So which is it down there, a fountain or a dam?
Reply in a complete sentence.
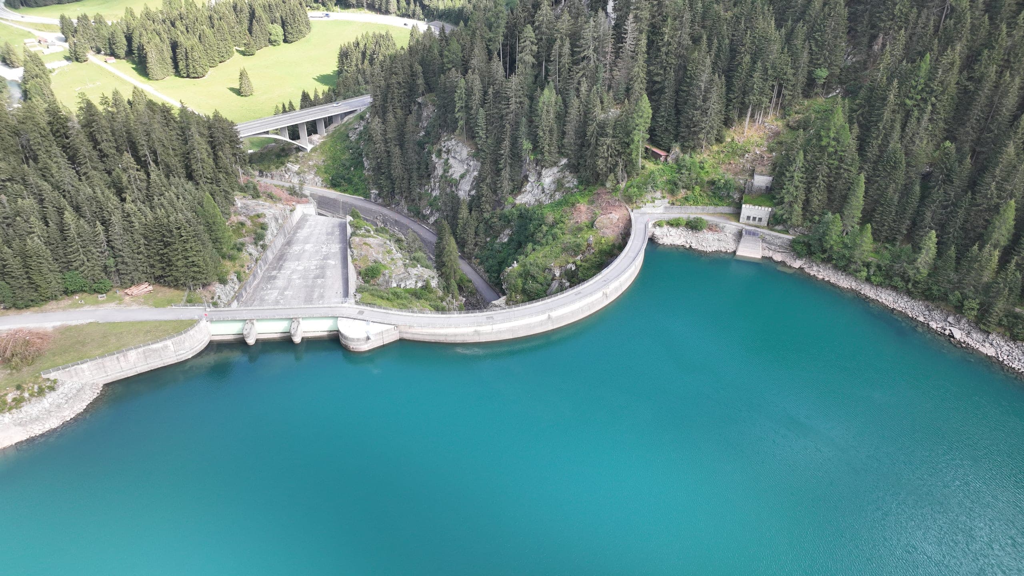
Visible in the photo is a dam.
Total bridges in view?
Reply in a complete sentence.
The photo contains exactly 1 bridge.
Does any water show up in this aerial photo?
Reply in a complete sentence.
Yes, there is water in the image.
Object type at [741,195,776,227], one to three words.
building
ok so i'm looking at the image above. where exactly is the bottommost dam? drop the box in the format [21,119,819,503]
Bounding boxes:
[205,301,355,346]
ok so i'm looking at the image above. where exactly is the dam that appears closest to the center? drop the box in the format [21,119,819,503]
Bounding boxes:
[348,210,655,345]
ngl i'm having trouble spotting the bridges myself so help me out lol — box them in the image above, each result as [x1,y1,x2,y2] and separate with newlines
[224,89,376,152]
